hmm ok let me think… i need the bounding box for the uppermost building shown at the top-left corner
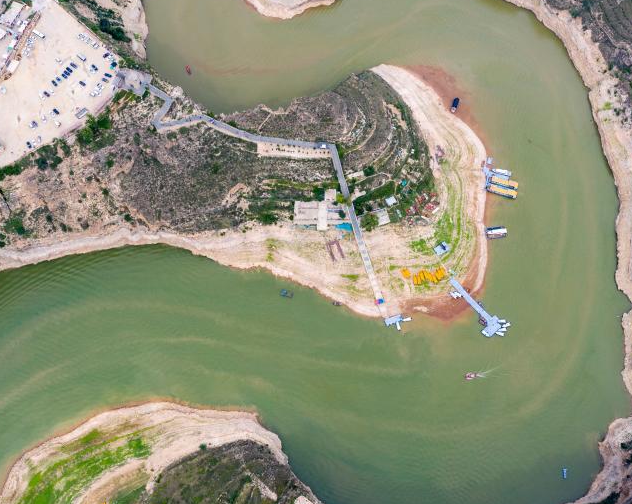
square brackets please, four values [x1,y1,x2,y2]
[0,1,26,26]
